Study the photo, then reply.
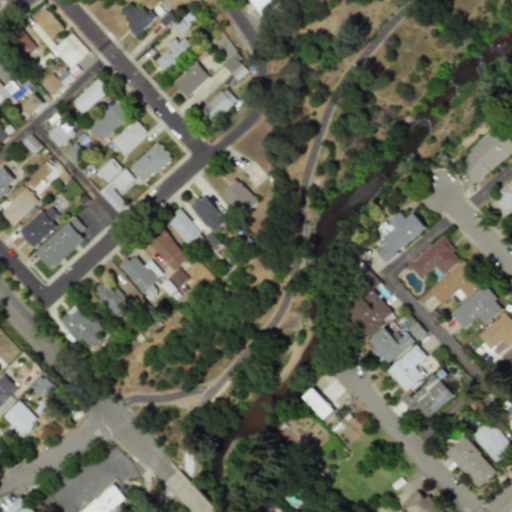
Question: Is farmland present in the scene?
No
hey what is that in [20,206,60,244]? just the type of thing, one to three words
house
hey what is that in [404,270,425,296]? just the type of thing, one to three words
swimming pool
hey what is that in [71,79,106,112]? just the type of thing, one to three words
house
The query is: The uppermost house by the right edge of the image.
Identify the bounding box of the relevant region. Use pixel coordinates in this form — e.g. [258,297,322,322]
[464,138,510,182]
